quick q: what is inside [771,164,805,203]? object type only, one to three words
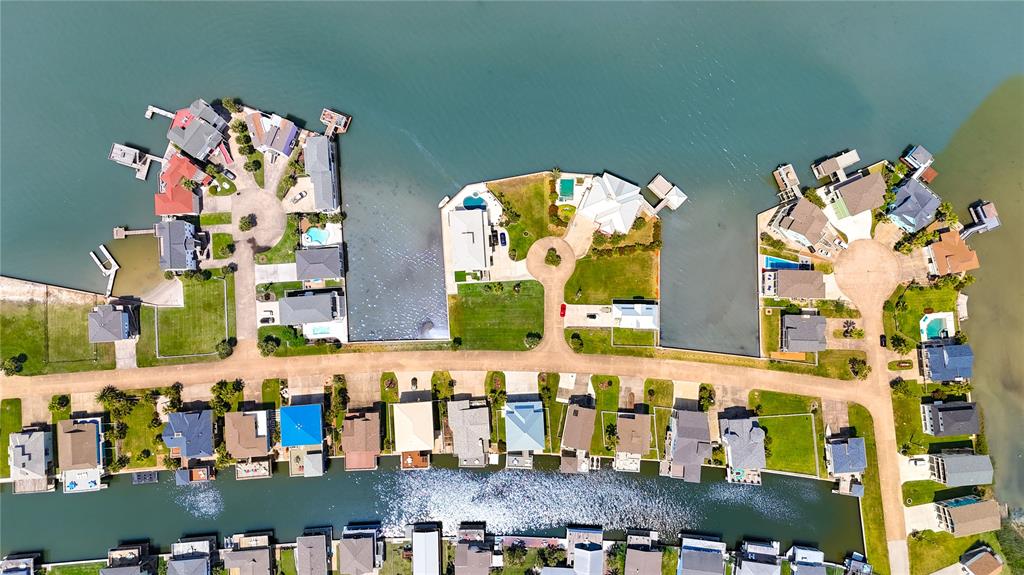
building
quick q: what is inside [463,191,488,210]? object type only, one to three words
swimming pool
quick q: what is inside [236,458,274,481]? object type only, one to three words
pier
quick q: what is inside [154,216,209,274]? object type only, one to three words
house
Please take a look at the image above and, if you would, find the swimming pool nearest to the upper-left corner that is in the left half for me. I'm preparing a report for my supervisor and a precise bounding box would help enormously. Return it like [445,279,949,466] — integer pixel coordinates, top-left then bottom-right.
[304,228,330,246]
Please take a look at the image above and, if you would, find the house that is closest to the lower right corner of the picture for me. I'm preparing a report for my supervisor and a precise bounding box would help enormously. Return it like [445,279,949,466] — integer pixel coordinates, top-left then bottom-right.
[955,539,1003,575]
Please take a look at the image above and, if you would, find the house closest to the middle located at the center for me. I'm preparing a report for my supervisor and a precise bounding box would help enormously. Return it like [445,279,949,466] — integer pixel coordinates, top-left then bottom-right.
[449,204,494,279]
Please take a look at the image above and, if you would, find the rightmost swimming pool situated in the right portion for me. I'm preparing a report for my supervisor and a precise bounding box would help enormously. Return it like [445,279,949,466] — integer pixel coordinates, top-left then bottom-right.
[926,317,948,340]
